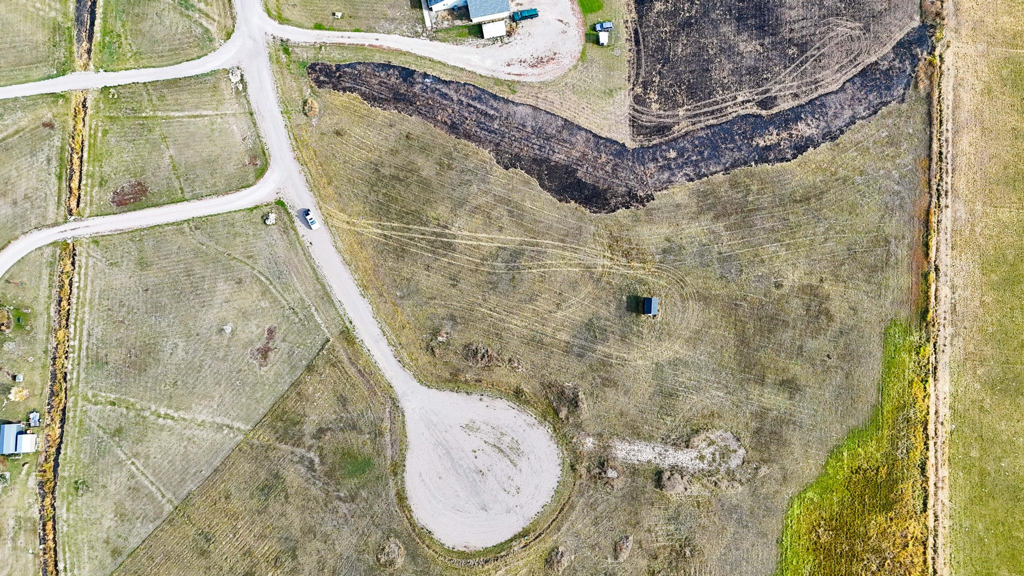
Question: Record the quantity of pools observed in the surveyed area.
0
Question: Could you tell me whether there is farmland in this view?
Yes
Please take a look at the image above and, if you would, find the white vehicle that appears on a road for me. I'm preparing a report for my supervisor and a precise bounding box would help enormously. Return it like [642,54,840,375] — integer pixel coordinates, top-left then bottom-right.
[303,208,321,231]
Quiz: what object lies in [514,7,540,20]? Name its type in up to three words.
vehicle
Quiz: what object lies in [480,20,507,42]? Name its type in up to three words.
shed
